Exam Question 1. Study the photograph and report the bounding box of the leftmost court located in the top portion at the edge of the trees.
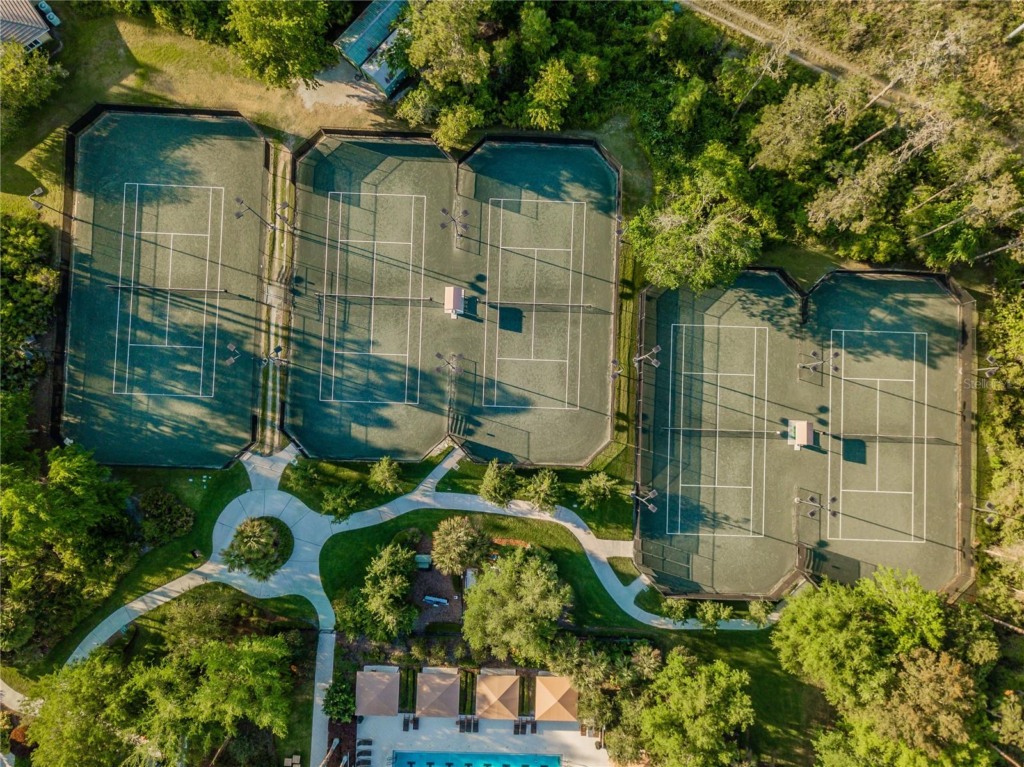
[60,113,263,467]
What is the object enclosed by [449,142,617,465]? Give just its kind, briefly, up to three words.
tennis court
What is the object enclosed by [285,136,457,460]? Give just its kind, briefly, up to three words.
tennis court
